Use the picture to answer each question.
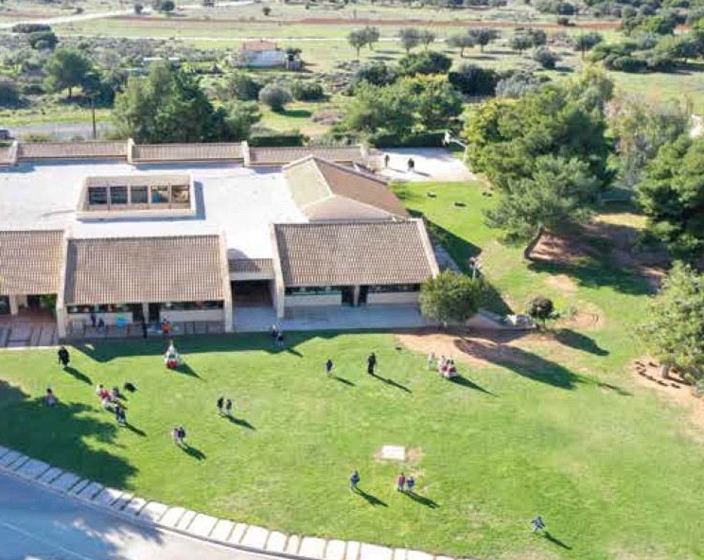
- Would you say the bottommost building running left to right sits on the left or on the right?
left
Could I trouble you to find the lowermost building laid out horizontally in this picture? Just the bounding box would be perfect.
[0,134,449,346]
